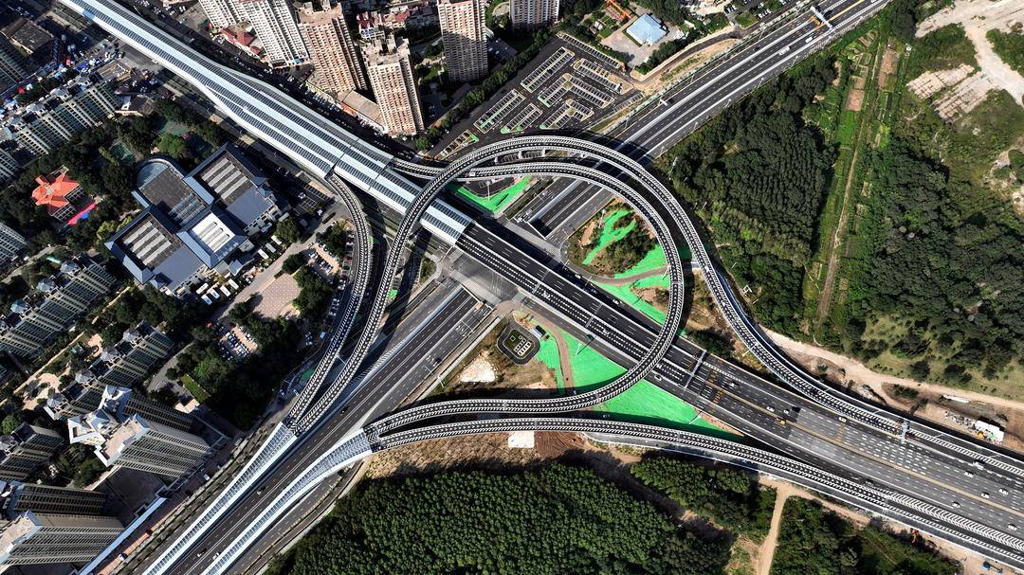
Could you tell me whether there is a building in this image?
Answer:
Yes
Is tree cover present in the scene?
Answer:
Yes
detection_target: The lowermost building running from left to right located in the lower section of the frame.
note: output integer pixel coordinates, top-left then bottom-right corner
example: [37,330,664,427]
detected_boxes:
[0,510,122,572]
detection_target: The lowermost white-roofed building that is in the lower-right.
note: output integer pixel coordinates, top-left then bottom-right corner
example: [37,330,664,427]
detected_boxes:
[971,421,1004,442]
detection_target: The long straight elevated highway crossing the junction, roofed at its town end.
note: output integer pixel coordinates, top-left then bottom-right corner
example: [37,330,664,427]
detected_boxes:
[58,0,736,410]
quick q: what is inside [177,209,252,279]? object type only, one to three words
building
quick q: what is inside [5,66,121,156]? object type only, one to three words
building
